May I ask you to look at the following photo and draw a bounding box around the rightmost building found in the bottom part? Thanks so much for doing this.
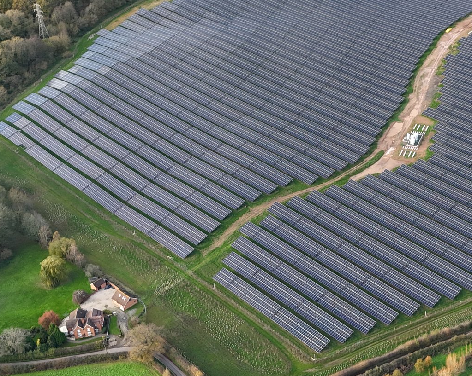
[106,286,136,311]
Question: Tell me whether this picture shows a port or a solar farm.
solar farm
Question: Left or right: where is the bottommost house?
left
